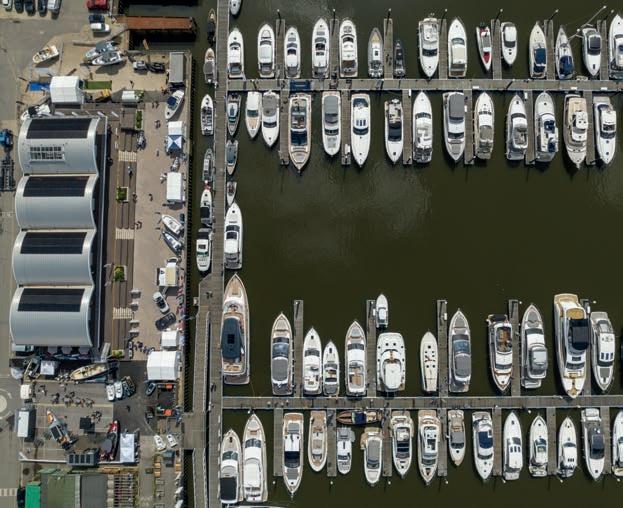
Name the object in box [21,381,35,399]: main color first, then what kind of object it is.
white vehicle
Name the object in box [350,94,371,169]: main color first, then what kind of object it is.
white boat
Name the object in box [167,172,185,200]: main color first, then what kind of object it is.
white tent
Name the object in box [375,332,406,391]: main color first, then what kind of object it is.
white boat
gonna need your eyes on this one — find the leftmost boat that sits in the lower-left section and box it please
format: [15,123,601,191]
[23,357,41,382]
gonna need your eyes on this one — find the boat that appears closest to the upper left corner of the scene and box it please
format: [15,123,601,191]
[32,45,61,64]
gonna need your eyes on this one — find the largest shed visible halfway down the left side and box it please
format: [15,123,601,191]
[8,116,113,347]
